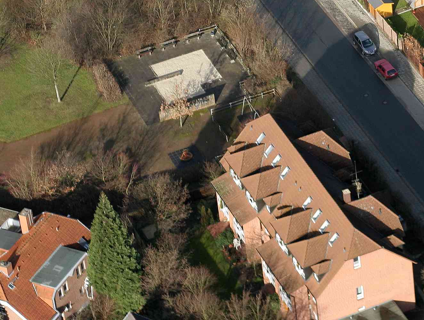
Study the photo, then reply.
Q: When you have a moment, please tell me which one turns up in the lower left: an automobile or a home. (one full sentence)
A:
The one visible in the lower left is a home.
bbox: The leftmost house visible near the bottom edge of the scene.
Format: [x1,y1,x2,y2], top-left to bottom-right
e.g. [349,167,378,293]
[0,207,91,320]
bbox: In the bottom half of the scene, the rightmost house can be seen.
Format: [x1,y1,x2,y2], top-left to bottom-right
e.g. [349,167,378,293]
[210,106,422,320]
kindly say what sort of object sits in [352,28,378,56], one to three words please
car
